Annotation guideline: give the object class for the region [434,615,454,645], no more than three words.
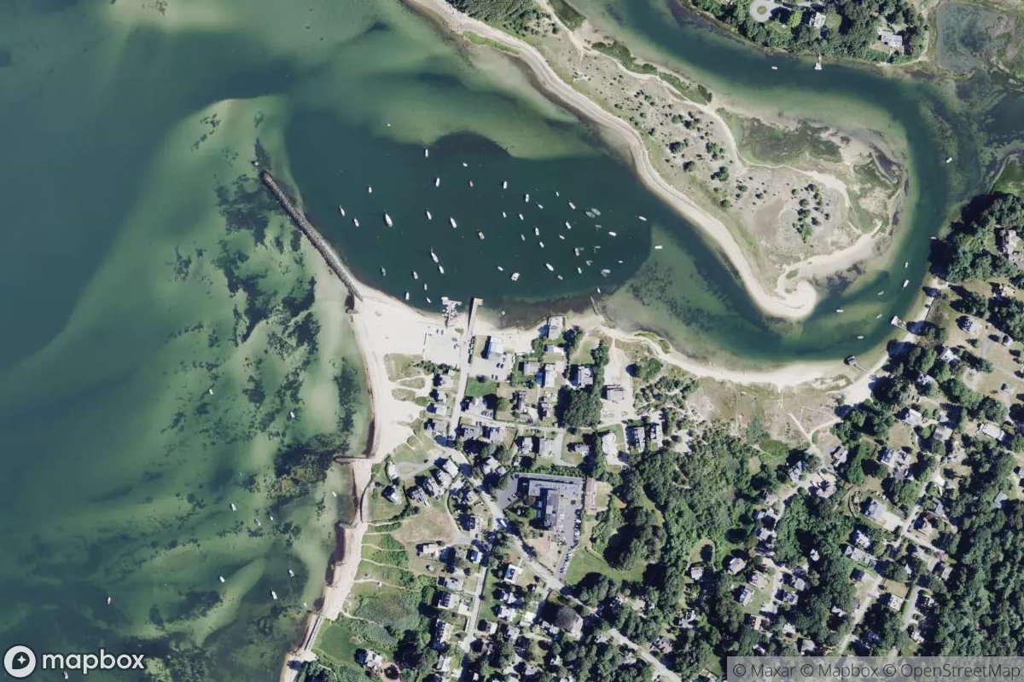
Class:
house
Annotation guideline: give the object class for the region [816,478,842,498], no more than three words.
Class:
house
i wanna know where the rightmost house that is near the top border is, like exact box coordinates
[880,30,904,48]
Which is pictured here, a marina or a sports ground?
marina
